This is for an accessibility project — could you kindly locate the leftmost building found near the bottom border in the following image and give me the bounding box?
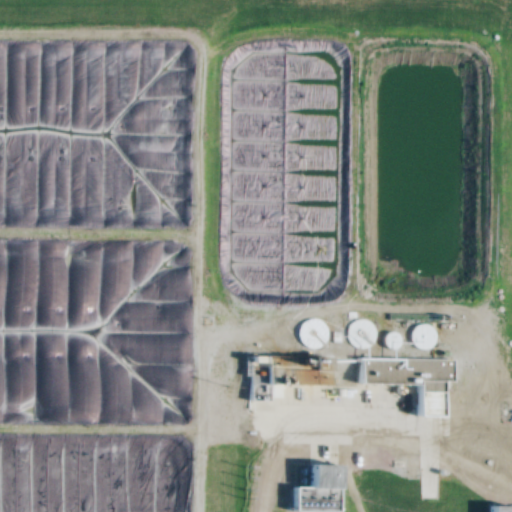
[290,464,348,512]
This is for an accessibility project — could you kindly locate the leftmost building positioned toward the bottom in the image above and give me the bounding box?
[246,356,273,400]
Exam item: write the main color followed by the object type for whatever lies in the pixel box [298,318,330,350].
white storage tank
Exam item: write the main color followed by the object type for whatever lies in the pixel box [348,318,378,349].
white storage tank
